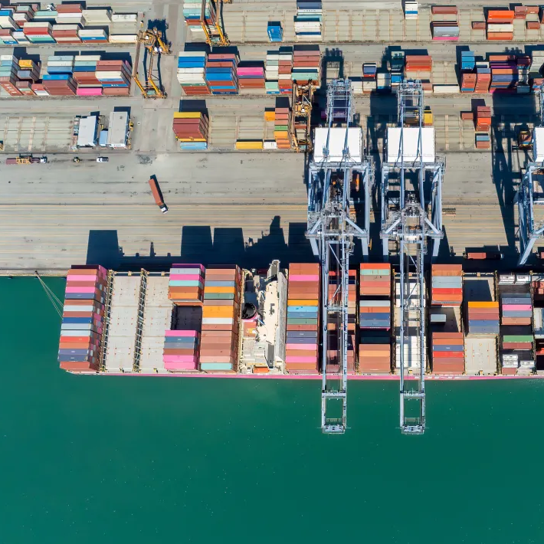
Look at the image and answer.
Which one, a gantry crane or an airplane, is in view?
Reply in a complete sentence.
I can see a gantry crane in this picture.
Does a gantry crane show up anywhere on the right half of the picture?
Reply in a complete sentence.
Yes, there is a gantry crane on the right half of the picture.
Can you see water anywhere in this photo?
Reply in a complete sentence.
Yes, water can be seen from above here.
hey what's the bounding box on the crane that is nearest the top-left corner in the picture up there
[128,25,168,101]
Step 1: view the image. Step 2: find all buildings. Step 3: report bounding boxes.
[105,107,132,145]
[75,111,102,147]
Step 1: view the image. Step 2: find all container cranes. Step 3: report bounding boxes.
[285,79,316,156]
[377,75,446,435]
[201,0,235,47]
[308,75,377,434]
[128,25,168,101]
[506,74,544,270]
